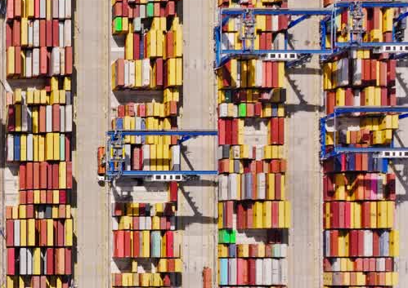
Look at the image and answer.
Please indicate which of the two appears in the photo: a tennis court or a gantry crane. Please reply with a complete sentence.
The one in the frame is a gantry crane.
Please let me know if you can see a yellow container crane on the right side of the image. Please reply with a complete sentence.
No, the scene shows no yellow container crane on the right side of the image.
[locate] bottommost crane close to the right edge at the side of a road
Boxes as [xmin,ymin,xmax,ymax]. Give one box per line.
[320,105,408,164]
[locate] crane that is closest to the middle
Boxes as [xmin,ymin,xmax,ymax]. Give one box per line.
[105,129,217,186]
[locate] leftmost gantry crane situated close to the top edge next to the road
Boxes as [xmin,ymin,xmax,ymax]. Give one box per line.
[215,7,333,75]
